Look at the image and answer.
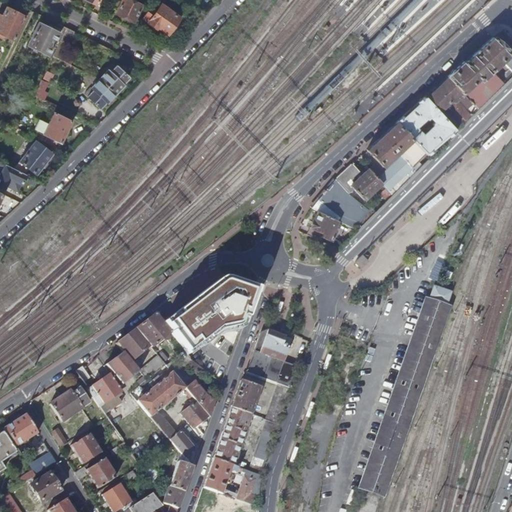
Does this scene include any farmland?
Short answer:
No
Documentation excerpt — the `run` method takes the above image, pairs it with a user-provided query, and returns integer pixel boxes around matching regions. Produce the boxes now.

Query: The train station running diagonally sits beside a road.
[302,0,485,120]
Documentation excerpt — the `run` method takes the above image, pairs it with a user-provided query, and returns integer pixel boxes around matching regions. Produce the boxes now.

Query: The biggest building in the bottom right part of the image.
[359,297,452,497]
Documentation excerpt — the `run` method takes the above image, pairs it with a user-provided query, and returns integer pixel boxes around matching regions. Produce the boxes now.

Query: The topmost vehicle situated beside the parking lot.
[483,126,510,152]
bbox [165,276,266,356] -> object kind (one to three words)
building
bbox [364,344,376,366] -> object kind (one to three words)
vehicle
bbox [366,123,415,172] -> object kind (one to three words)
house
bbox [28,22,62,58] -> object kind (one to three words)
house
